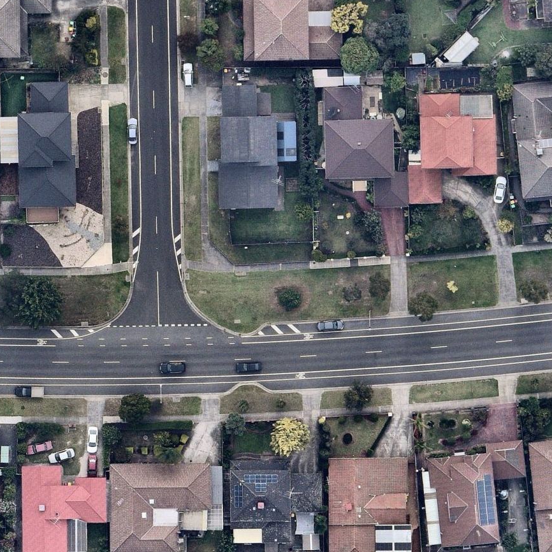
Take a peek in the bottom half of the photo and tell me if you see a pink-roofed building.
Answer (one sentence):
Yes, I can see a pink-roofed building in the bottom half of the photo.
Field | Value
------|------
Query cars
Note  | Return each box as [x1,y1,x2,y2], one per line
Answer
[159,362,185,374]
[48,448,75,464]
[86,427,98,453]
[26,441,53,455]
[182,63,192,87]
[493,177,507,203]
[317,319,343,331]
[235,362,262,373]
[127,118,139,145]
[86,454,98,478]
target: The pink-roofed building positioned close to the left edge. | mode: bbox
[20,466,106,552]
